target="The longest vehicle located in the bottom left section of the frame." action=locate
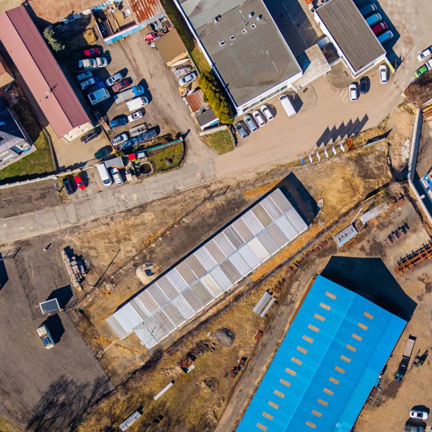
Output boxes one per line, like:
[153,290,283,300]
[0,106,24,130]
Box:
[38,324,56,348]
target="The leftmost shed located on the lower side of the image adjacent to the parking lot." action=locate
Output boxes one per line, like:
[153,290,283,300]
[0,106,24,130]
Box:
[106,187,309,350]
